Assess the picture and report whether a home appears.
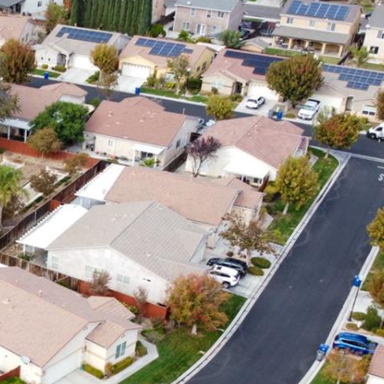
Yes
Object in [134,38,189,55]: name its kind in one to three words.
solar array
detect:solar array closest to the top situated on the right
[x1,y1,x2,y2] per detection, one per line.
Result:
[285,0,351,18]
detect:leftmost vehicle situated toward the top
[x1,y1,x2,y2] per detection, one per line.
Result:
[247,97,264,111]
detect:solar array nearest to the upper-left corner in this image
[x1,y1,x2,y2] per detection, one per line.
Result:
[58,26,113,43]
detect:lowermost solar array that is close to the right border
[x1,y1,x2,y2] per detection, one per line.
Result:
[323,64,384,83]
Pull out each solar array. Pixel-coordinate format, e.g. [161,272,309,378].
[58,26,113,43]
[285,0,351,18]
[224,50,281,77]
[134,38,189,55]
[323,64,384,83]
